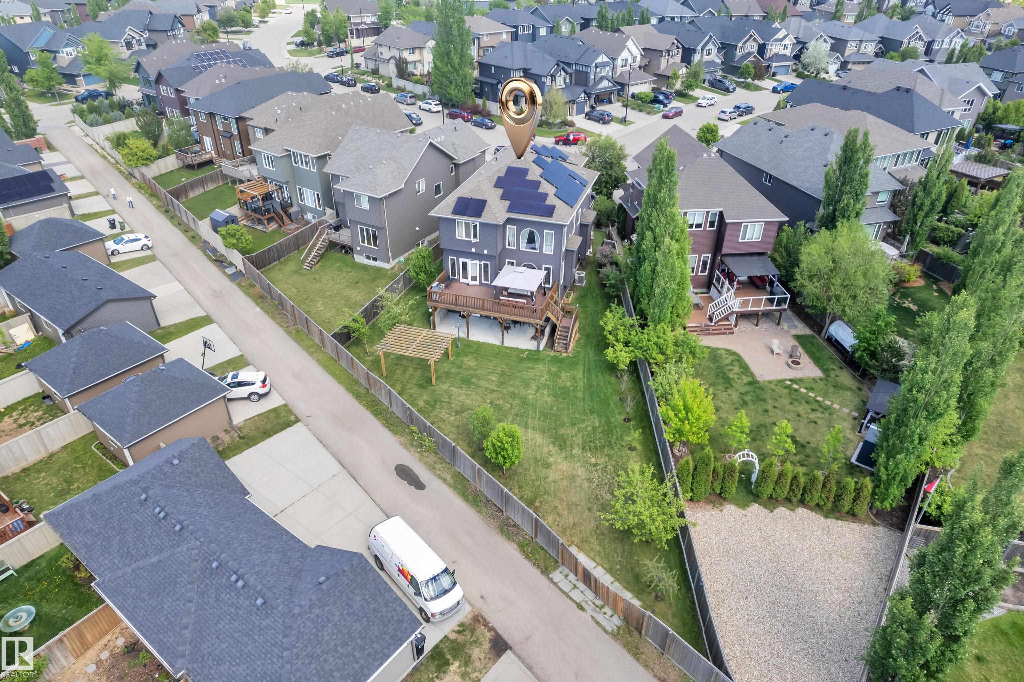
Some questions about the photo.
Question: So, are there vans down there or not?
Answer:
Yes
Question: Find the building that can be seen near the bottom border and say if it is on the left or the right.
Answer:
left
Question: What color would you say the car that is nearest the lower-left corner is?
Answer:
white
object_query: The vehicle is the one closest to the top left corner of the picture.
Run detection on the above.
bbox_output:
[73,87,113,101]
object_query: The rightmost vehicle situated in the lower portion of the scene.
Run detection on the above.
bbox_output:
[371,516,472,631]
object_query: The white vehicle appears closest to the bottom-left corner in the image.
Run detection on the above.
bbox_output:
[224,369,274,415]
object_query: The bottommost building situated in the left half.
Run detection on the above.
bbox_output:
[35,442,426,682]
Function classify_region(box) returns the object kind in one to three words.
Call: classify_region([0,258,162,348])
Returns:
building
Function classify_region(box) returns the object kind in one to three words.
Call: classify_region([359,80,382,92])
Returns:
vehicle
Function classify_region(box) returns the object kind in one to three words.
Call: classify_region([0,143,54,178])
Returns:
building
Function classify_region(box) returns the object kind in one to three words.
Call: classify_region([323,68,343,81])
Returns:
vehicle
